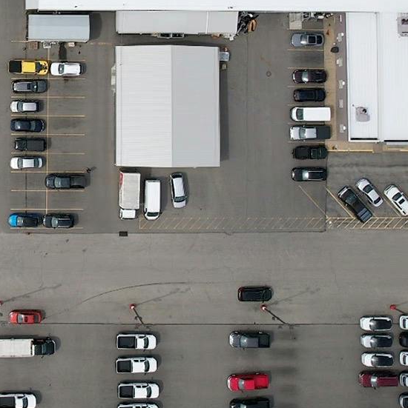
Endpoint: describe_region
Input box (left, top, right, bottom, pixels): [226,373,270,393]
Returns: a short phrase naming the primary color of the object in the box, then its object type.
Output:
red vehicle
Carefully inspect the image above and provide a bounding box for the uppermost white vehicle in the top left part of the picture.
[49,61,82,76]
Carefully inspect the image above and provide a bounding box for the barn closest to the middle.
[113,45,220,165]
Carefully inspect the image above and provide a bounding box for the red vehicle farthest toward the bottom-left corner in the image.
[9,310,42,324]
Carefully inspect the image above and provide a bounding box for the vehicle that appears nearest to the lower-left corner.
[0,392,36,408]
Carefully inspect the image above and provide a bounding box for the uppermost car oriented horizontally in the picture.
[290,32,324,47]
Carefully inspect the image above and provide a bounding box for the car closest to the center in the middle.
[169,172,186,208]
